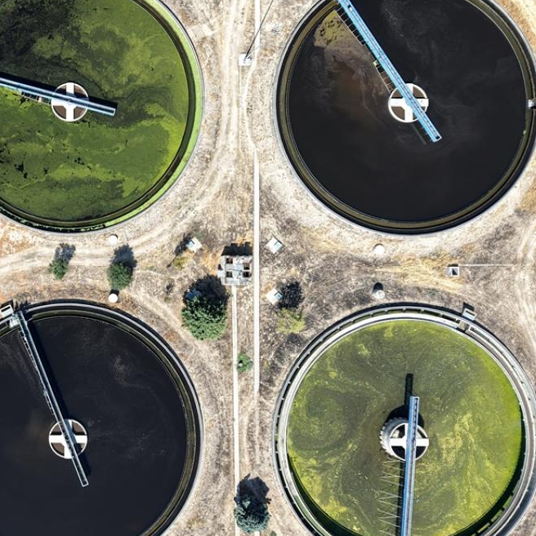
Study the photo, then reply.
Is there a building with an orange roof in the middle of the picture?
No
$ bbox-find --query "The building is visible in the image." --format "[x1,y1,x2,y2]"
[212,254,251,284]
